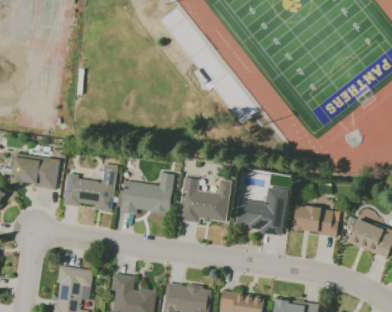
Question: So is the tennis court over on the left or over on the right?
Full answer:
The tennis court is on the left side of the image.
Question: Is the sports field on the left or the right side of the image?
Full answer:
The sports field sits on the right side.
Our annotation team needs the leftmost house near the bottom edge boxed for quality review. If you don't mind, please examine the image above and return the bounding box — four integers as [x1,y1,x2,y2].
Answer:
[54,266,92,312]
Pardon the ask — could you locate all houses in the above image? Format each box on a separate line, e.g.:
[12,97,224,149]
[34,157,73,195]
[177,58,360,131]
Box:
[218,291,264,312]
[348,218,392,259]
[292,206,340,236]
[181,176,232,224]
[240,188,288,234]
[108,274,156,312]
[272,298,320,312]
[164,283,212,312]
[13,157,61,188]
[63,164,118,212]
[54,266,92,312]
[116,173,176,216]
